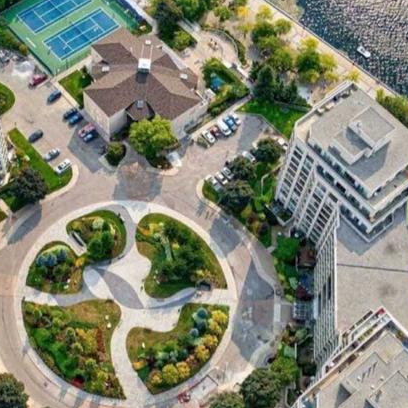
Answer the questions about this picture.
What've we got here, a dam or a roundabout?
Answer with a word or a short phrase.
roundabout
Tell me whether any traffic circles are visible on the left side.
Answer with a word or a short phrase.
Yes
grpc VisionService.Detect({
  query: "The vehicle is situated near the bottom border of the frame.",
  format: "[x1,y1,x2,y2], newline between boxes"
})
[171,391,191,404]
